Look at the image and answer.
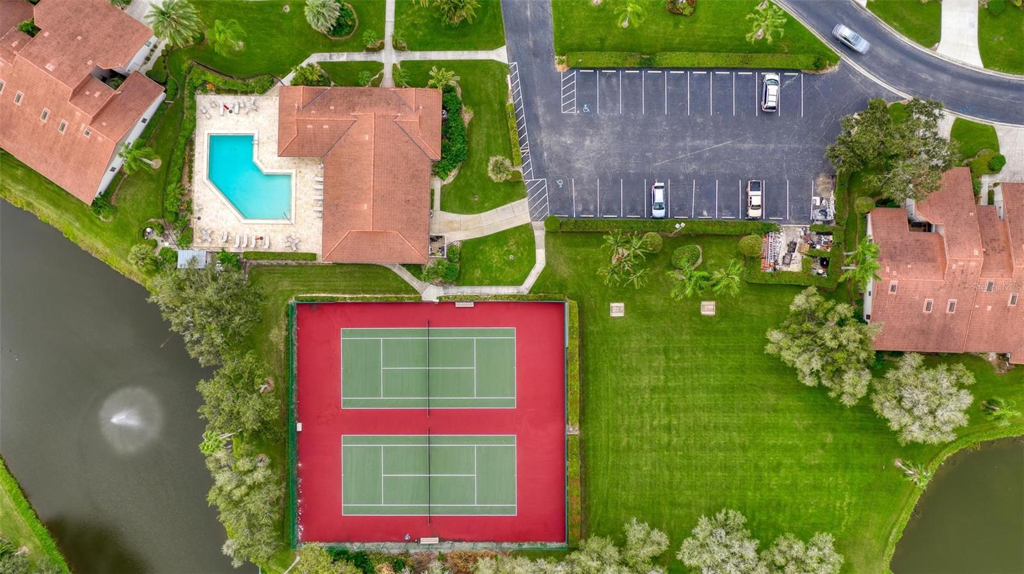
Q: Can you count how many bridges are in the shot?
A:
0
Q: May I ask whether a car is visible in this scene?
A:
Yes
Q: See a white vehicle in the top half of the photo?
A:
Yes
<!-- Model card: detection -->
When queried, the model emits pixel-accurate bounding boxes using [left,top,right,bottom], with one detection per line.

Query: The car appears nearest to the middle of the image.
[651,182,666,218]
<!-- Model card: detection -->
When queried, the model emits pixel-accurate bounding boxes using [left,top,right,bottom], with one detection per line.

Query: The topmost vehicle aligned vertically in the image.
[761,74,780,112]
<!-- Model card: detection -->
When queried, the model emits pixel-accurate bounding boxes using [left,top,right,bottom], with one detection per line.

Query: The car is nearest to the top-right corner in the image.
[833,24,870,52]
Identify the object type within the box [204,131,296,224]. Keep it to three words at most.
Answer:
swimming pool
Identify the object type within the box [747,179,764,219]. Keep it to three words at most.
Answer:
vehicle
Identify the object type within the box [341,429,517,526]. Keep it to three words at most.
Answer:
tennis court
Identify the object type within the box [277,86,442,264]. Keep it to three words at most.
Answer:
building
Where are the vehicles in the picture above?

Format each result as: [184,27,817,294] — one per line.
[833,24,870,52]
[747,179,764,219]
[761,74,780,112]
[651,182,666,218]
